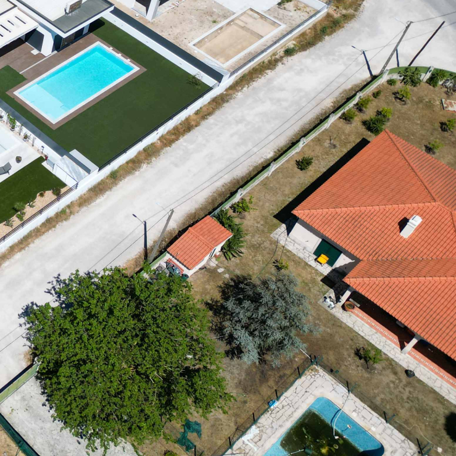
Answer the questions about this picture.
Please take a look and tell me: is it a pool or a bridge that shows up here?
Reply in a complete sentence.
It is a pool that can be seen here.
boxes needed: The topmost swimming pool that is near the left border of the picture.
[14,41,139,124]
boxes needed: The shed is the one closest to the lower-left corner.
[168,209,241,279]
